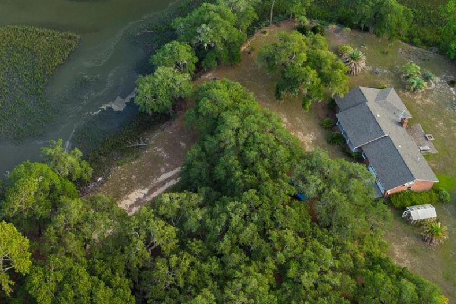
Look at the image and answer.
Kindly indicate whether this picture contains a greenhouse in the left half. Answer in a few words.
No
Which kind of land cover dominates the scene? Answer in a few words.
trees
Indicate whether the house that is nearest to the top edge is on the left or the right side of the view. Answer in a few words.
right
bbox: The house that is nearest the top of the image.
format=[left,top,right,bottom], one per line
[333,85,440,200]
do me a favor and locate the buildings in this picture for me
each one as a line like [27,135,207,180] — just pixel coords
[333,85,440,200]
[402,207,443,234]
